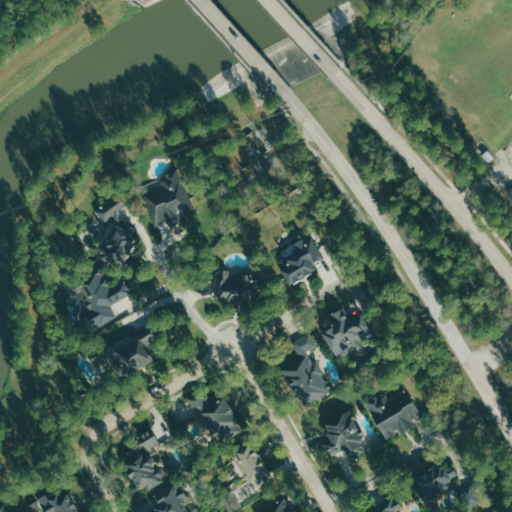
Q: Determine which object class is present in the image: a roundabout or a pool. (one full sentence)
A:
This aerial view contains a pool.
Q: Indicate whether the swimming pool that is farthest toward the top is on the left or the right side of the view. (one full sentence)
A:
You can find the swimming pool that is farthest toward the top on the left side of the picture.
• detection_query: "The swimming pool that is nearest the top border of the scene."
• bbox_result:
[148,158,170,178]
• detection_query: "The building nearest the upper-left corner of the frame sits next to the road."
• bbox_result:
[91,194,128,224]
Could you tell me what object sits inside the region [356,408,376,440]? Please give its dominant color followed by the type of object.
blue swimming pool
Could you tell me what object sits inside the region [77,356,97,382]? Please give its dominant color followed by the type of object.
blue swimming pool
